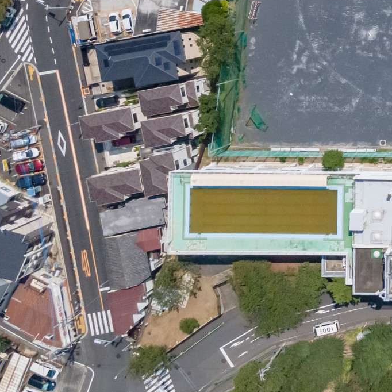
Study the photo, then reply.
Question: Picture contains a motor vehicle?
Yes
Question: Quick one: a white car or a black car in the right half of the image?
white car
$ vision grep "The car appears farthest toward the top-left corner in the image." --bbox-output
[0,8,19,32]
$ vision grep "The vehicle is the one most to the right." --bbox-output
[313,319,341,335]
